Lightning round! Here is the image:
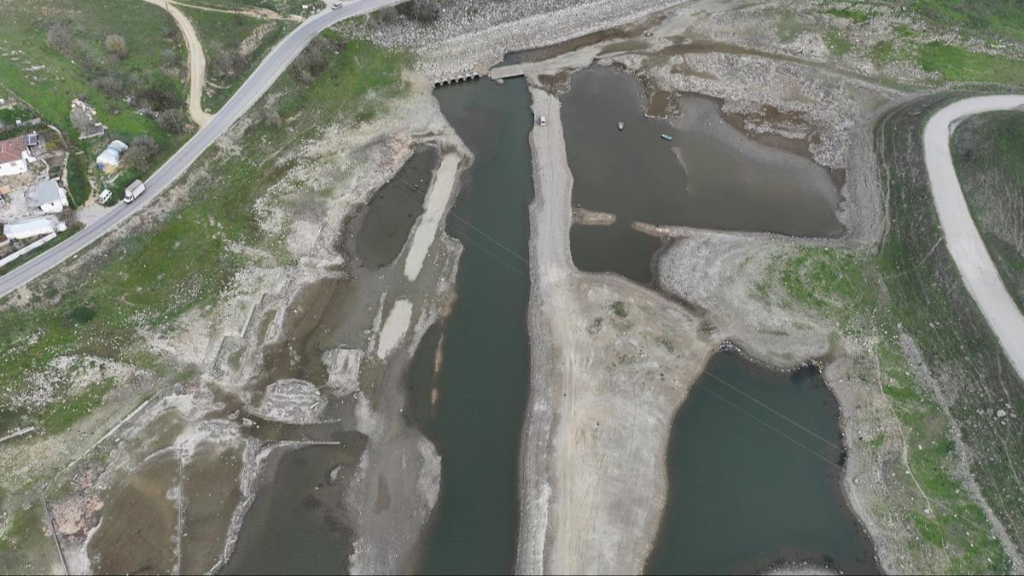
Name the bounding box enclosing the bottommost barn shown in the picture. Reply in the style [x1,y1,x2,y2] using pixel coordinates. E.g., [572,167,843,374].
[3,215,56,241]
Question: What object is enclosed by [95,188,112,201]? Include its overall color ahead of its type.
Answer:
white vehicle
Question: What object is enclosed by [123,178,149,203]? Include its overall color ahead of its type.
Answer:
white truck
